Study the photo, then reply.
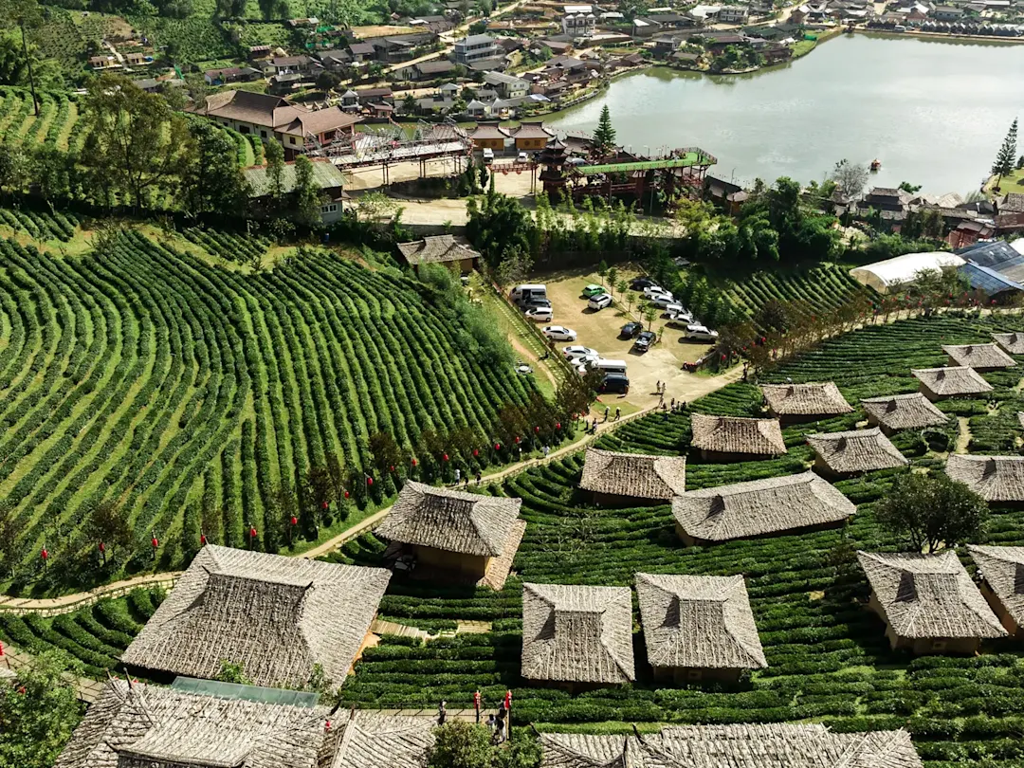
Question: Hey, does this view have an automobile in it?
Yes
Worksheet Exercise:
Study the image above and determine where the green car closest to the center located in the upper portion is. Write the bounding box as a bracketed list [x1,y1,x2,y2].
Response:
[581,283,608,296]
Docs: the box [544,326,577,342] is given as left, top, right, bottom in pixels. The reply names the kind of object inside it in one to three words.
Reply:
car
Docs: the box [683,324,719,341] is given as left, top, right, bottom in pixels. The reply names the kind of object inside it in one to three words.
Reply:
car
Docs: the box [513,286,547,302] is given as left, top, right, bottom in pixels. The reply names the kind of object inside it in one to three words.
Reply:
vehicle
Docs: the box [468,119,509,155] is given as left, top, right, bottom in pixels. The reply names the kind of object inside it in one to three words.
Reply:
building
